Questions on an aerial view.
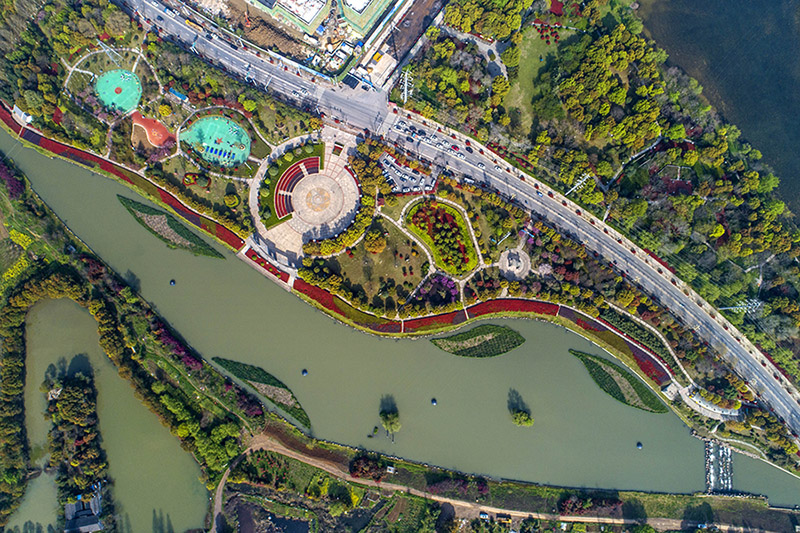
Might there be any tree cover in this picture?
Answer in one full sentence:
Yes, there is tree cover in the image.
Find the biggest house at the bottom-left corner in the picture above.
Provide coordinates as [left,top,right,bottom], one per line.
[62,495,105,532]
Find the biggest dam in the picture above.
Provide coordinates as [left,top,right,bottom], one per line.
[704,442,734,495]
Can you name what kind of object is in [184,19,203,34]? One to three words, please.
vehicle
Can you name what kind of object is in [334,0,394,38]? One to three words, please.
building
